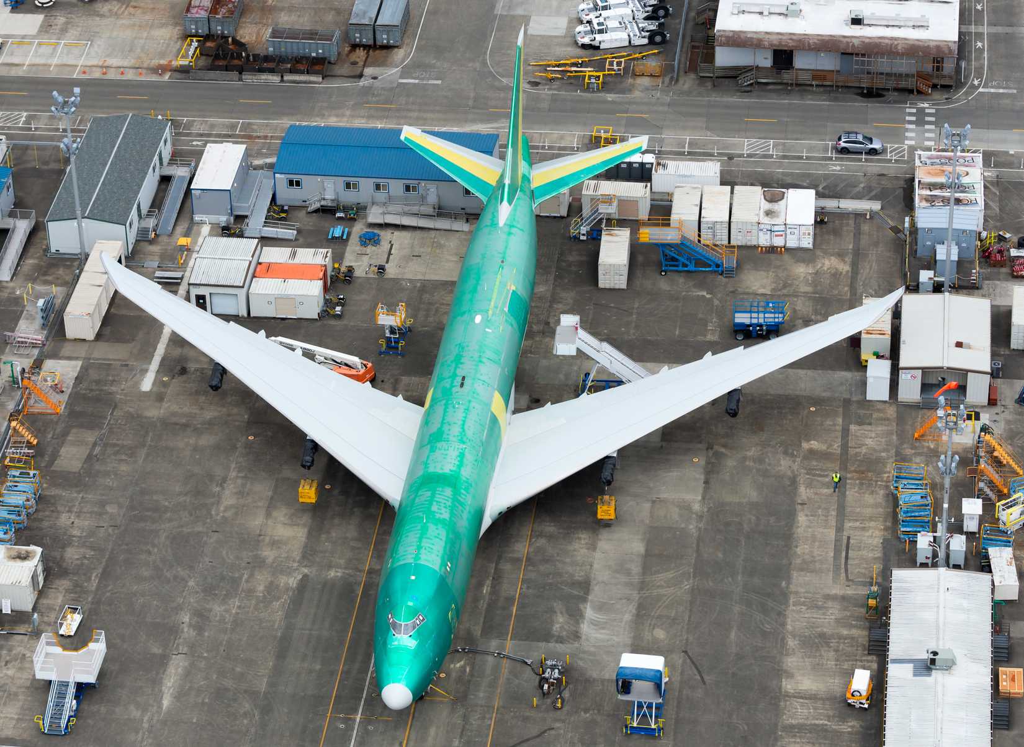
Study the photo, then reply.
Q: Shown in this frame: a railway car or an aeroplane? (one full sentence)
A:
There is an aeroplane in the scene.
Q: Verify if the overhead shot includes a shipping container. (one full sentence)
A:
Yes, this view includes a shipping container.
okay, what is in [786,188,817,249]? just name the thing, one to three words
shipping container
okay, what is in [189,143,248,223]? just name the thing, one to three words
building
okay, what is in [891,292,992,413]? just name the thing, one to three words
building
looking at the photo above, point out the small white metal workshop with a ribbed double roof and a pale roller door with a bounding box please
[185,234,262,314]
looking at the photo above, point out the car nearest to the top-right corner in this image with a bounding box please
[836,130,884,154]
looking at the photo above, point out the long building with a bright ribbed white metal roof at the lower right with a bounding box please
[882,565,994,747]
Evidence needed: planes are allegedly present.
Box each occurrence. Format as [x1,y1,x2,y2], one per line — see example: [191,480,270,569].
[103,25,901,712]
